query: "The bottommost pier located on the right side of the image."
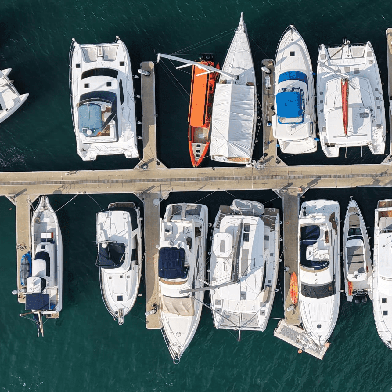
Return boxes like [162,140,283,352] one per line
[271,188,309,324]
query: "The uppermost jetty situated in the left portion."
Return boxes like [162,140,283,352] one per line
[134,62,168,169]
